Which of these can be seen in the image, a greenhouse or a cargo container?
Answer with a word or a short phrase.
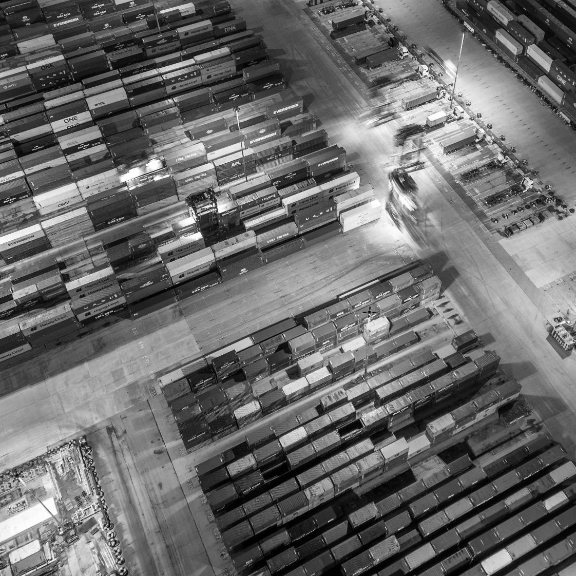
cargo container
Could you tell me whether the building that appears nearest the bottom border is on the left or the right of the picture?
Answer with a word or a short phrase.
left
